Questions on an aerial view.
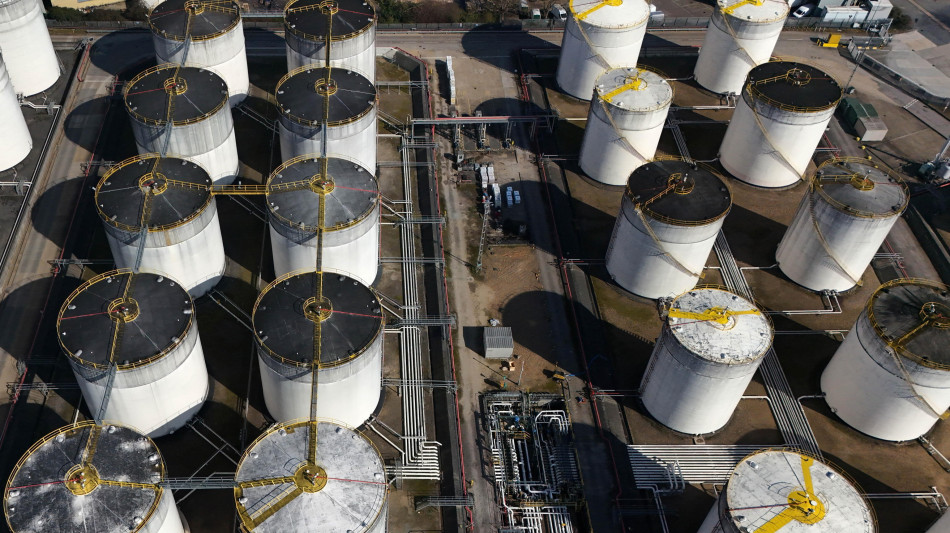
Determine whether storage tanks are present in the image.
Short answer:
Yes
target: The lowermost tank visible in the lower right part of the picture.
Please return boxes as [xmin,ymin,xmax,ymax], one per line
[695,444,879,533]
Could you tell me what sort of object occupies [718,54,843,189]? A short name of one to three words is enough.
storage tank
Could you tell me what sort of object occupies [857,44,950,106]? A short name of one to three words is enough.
building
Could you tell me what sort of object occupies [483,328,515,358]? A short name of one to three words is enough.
building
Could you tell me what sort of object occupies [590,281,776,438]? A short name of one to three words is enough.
storage tank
